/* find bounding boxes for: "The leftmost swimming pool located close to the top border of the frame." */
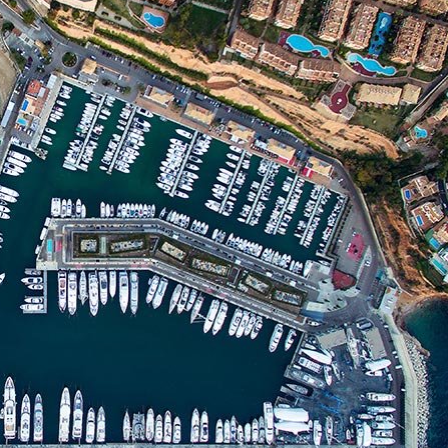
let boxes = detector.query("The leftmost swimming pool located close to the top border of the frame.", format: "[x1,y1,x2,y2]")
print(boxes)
[141,5,170,33]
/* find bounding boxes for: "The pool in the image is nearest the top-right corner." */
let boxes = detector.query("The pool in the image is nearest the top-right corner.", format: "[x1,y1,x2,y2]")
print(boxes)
[368,12,392,55]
